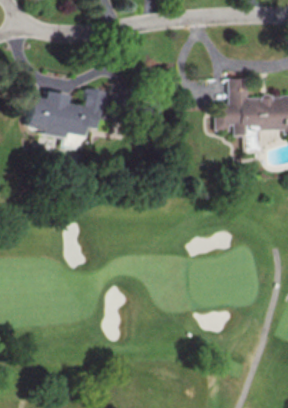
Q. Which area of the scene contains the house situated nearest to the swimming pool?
top right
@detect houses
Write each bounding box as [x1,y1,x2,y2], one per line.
[213,78,288,138]
[28,88,106,149]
